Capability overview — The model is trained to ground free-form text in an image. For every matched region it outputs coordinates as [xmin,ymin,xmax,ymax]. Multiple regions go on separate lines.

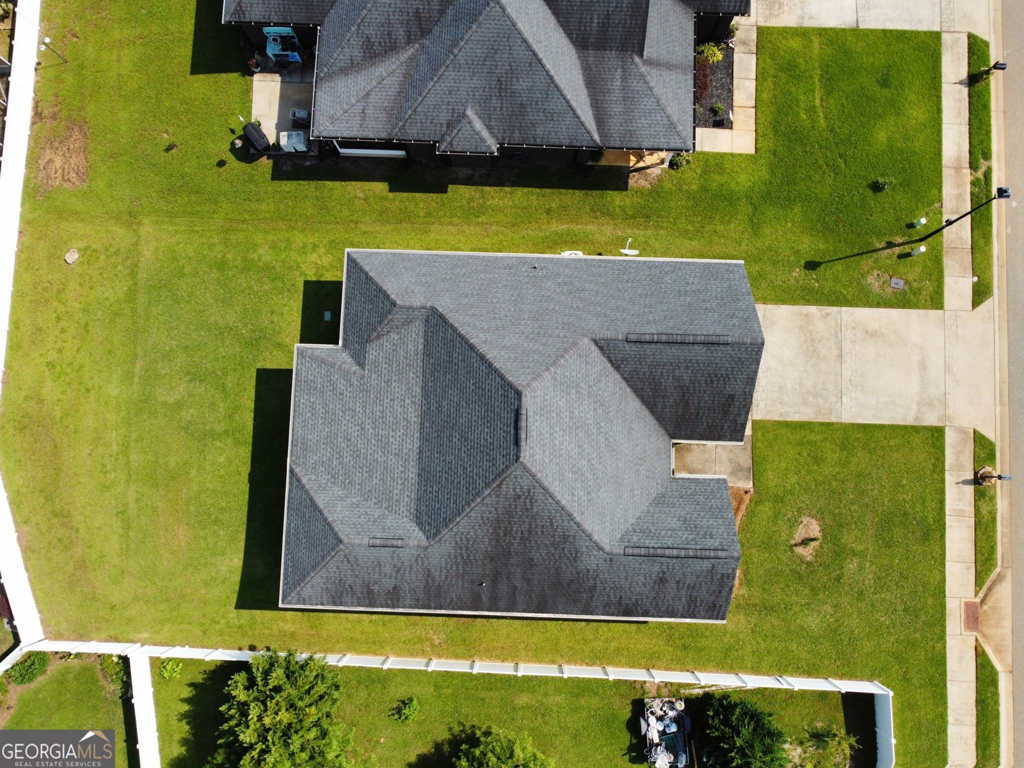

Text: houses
[222,0,753,168]
[279,248,764,623]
